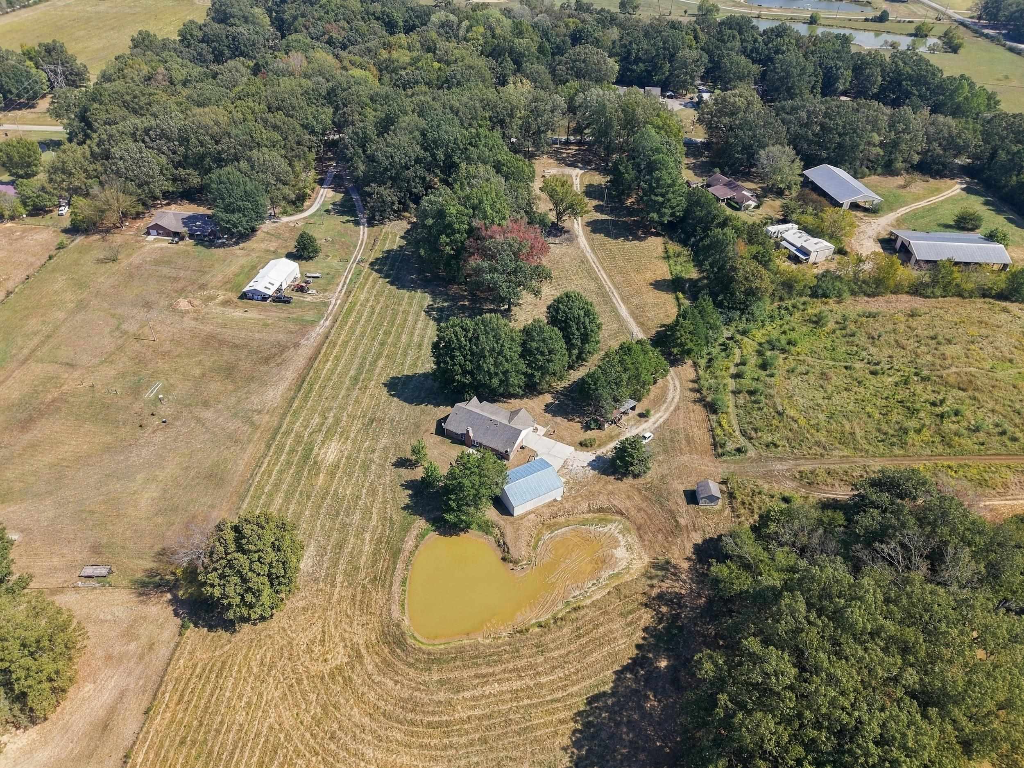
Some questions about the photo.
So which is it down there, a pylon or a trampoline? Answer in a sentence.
The image shows a pylon.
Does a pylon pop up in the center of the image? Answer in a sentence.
No, in the center of the image there is no pylon.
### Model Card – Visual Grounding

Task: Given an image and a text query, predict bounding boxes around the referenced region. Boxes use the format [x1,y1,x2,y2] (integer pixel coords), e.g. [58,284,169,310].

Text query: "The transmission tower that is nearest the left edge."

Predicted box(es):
[33,50,65,90]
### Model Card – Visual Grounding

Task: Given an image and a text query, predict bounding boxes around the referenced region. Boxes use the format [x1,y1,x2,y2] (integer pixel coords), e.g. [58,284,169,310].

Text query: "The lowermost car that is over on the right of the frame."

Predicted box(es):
[640,431,656,445]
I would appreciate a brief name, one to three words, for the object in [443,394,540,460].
house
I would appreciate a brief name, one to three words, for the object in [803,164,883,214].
barn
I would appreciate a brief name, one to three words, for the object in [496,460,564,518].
building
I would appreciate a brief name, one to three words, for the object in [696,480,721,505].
shed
